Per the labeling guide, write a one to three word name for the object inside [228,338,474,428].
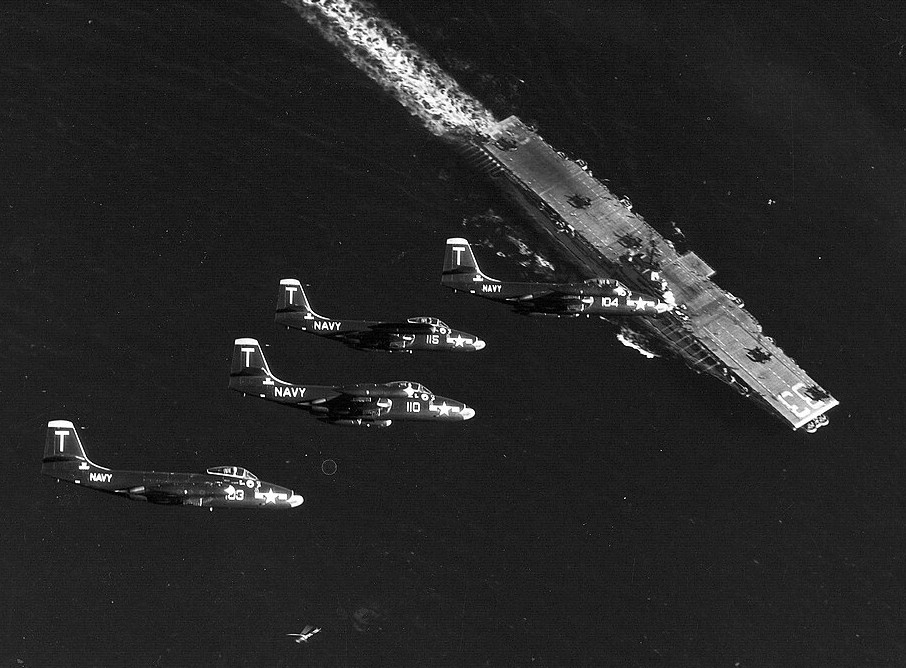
airplane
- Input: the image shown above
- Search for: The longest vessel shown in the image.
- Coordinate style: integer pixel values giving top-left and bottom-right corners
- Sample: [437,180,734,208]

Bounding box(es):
[463,116,840,433]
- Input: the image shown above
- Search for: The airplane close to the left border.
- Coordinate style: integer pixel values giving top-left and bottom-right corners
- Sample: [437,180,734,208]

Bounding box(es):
[41,420,303,511]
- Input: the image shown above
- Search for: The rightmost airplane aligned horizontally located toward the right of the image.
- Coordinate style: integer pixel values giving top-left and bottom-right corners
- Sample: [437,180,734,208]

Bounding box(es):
[441,238,670,320]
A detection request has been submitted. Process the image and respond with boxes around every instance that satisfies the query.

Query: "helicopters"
[291,621,319,645]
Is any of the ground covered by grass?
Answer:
No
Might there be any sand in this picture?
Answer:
No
